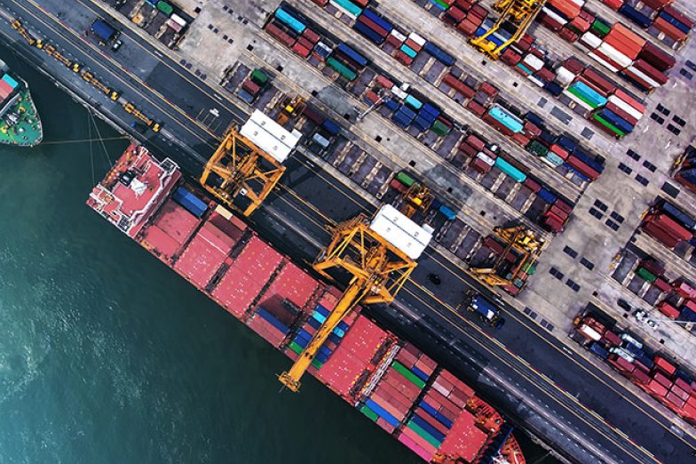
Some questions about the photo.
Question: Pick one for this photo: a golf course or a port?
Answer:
port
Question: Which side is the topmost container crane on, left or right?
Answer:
right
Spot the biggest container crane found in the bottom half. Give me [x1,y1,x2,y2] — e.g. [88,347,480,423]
[276,196,440,397]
